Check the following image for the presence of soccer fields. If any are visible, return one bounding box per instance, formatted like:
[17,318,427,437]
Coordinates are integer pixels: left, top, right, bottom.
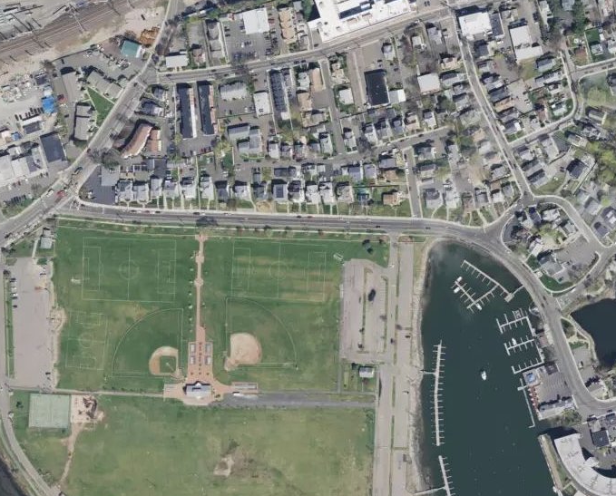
[232,240,327,303]
[81,236,176,305]
[65,311,105,371]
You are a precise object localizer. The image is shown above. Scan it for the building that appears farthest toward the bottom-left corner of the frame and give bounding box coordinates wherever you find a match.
[186,383,211,397]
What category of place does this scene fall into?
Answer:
residential area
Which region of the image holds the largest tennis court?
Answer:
bottom left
